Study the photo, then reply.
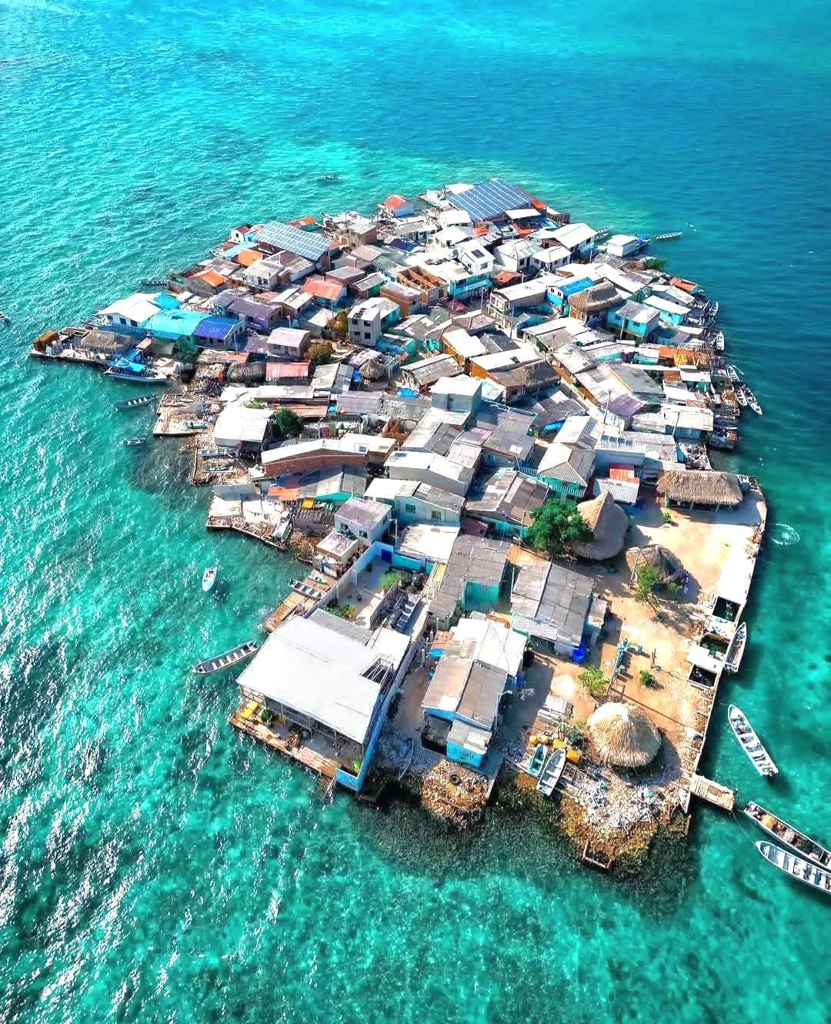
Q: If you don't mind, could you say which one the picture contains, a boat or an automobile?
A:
boat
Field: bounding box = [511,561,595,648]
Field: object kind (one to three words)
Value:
house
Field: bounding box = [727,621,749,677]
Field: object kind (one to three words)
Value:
boat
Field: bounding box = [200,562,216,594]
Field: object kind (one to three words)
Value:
boat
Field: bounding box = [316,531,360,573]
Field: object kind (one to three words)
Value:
shed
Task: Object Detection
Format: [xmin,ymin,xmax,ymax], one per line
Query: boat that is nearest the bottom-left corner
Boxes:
[193,638,260,674]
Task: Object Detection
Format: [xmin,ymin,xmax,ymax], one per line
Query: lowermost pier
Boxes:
[694,773,735,816]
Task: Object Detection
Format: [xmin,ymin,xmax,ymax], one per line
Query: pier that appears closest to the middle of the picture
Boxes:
[293,573,330,614]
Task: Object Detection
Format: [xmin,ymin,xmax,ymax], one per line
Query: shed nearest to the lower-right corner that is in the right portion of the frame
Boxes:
[588,706,661,771]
